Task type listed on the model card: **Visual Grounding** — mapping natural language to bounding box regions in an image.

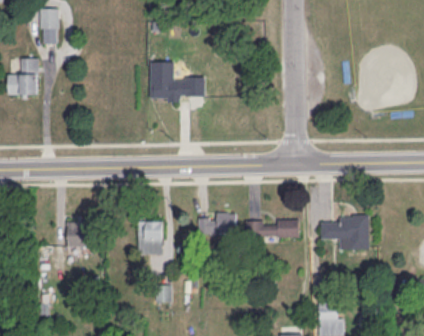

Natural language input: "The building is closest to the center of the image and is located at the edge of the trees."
[199,212,239,237]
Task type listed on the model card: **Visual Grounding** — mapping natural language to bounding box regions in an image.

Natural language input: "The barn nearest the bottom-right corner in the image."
[320,304,347,336]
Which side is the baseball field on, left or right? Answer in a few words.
right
